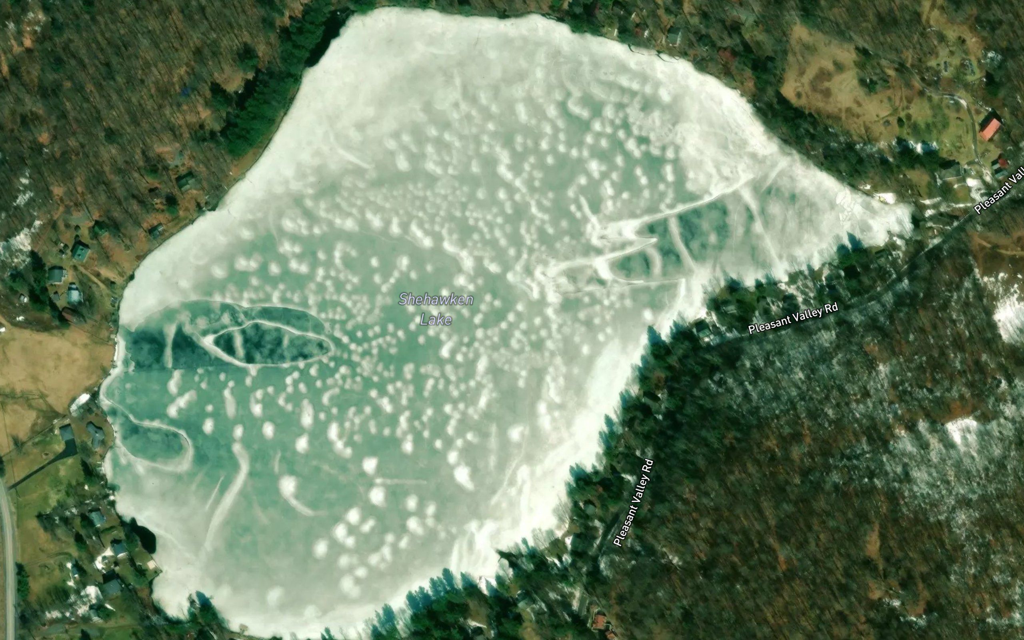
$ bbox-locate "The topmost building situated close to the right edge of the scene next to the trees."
[973,113,1001,141]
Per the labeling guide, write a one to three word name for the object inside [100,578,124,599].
house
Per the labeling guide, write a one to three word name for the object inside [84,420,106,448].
house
